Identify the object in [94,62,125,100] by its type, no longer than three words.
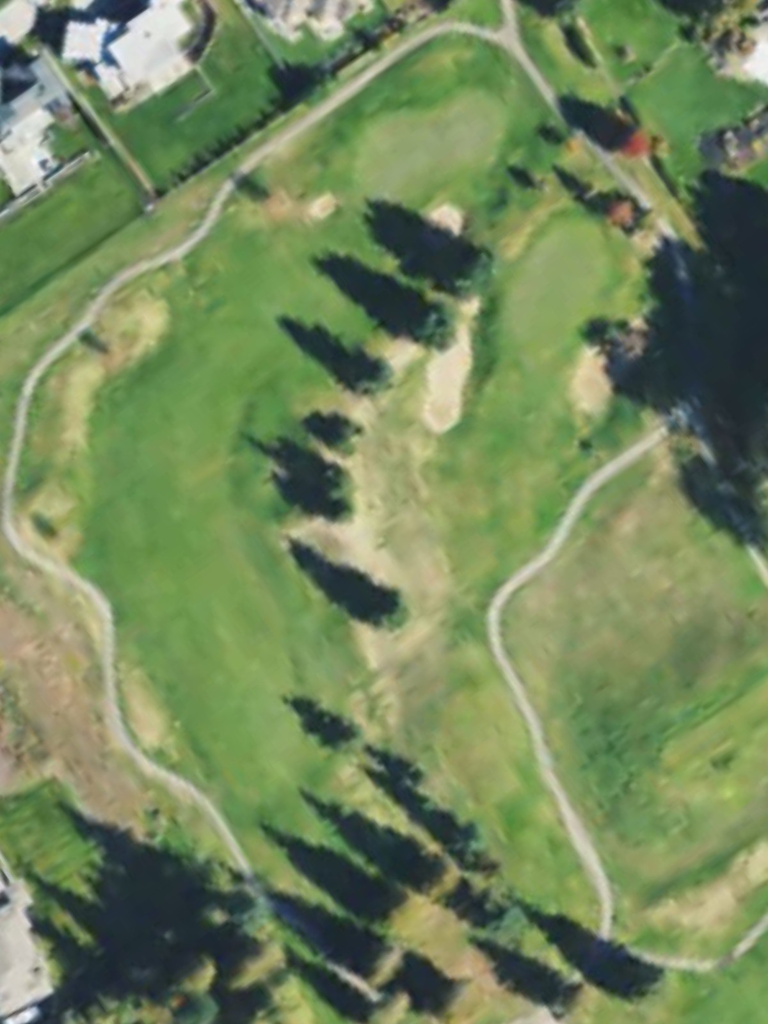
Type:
shed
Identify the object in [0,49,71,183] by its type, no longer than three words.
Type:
house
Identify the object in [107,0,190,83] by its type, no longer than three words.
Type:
house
